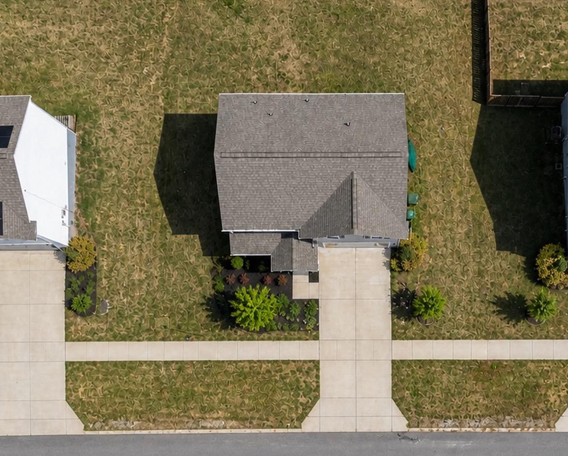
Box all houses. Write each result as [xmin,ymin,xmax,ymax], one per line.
[213,92,410,271]
[0,95,73,253]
